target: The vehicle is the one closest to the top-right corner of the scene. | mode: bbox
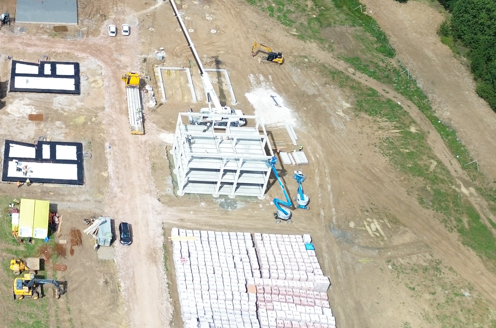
[250,41,284,66]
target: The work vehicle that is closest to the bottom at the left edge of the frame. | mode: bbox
[12,273,63,300]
